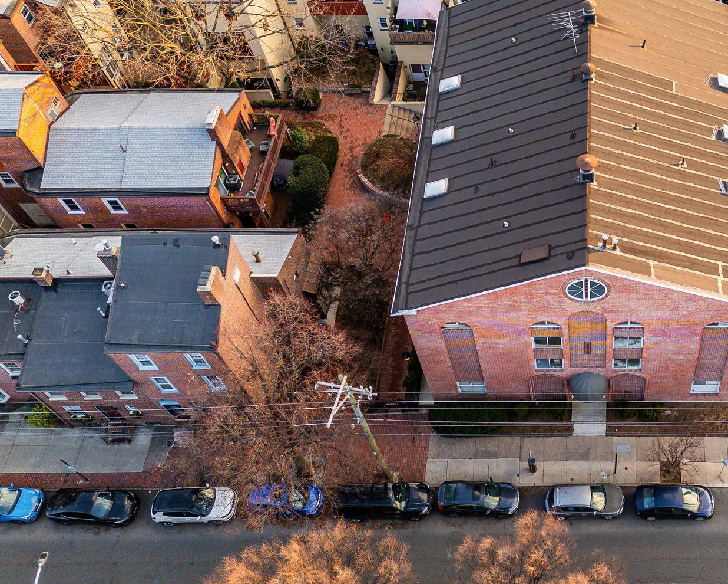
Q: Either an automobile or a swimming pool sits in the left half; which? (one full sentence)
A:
Visible in the left half is an automobile.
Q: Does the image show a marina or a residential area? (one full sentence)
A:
This looks like a residential area.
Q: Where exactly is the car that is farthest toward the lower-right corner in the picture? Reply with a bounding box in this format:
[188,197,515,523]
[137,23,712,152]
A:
[635,481,715,523]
